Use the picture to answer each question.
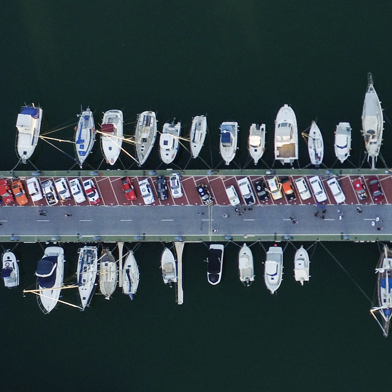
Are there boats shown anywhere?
Yes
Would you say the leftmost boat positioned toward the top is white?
Yes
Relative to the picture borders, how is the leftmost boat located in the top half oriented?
from top to bottom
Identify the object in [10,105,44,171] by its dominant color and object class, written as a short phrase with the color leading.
white boat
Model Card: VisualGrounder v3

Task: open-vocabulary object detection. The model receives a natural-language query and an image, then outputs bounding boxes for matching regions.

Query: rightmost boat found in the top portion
[359,72,386,169]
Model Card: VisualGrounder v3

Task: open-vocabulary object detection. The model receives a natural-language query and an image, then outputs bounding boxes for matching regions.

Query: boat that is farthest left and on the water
[0,245,19,287]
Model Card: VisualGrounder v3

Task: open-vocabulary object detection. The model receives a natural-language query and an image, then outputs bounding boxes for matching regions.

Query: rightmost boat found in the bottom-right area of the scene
[322,242,392,337]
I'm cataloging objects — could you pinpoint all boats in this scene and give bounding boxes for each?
[231,242,258,284]
[272,100,300,168]
[34,242,68,313]
[98,111,158,169]
[218,122,239,168]
[10,105,44,171]
[248,122,268,169]
[260,242,286,296]
[103,252,141,296]
[155,120,181,170]
[294,244,312,284]
[97,109,124,170]
[158,115,210,169]
[359,72,386,169]
[301,121,327,170]
[322,242,392,337]
[333,123,353,165]
[98,245,119,299]
[24,245,99,310]
[160,245,178,285]
[39,109,98,169]
[0,245,19,287]
[203,242,227,285]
